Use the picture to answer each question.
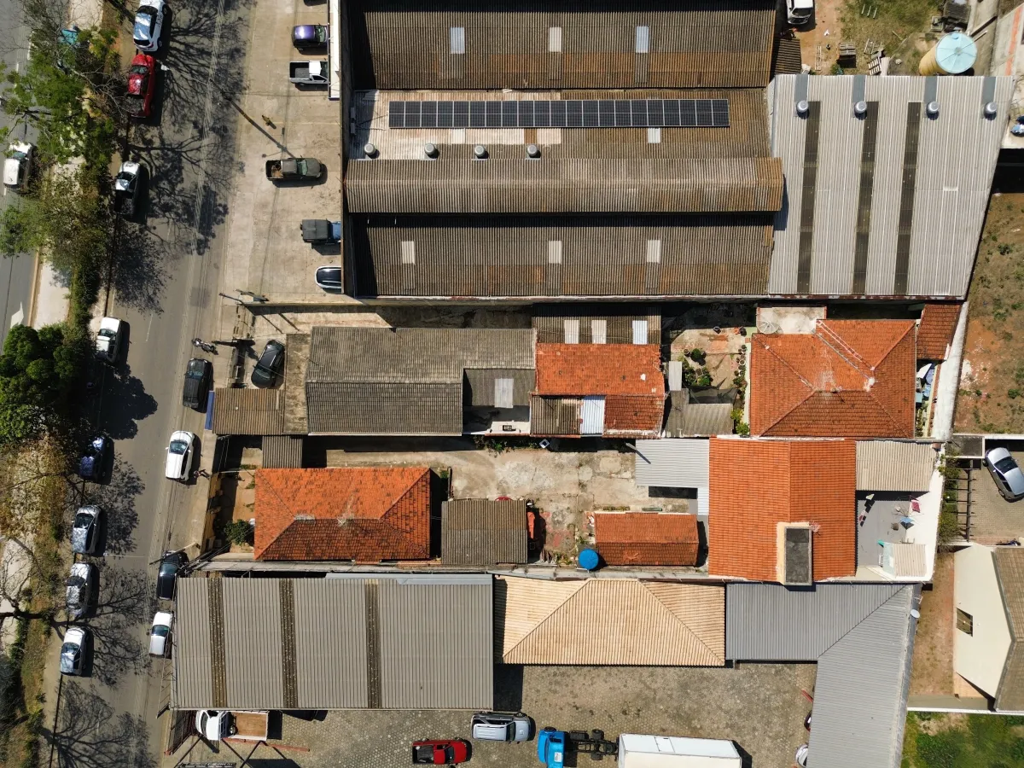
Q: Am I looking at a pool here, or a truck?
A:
truck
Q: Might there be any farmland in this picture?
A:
No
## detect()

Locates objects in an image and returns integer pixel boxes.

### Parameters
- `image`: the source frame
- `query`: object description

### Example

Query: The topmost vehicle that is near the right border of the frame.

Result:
[980,446,1024,503]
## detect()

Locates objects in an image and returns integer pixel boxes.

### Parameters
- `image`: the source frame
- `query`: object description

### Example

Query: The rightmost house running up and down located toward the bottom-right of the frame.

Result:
[954,545,1024,700]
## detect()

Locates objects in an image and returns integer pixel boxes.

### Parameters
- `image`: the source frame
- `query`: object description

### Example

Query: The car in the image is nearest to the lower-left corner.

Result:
[60,624,92,677]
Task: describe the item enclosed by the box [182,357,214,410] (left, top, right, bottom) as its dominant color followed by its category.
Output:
black car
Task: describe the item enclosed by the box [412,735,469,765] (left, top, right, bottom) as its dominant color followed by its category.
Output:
red truck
